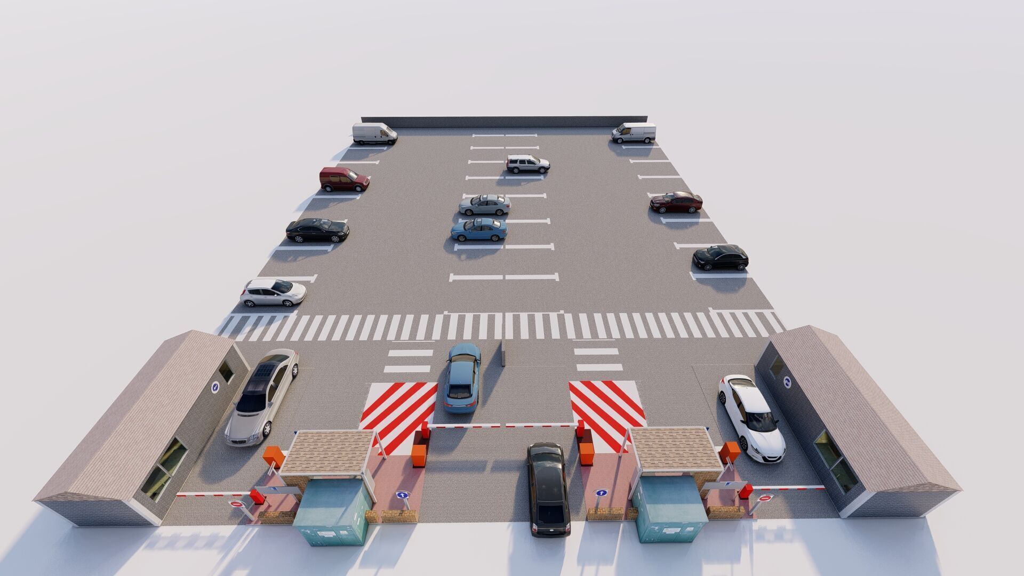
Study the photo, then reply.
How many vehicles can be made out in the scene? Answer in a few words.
14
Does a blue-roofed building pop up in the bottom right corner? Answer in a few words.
No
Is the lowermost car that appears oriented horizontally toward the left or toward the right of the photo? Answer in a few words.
left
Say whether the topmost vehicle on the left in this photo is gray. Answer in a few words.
Yes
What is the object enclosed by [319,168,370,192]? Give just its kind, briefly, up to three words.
vehicle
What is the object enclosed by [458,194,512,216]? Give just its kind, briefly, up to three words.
car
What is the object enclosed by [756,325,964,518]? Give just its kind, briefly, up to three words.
building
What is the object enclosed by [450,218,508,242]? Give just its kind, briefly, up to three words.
car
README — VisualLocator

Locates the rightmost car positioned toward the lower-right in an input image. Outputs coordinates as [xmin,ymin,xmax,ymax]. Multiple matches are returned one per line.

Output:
[718,375,789,465]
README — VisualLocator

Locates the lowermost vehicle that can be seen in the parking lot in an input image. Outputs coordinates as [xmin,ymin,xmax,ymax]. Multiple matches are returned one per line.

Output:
[525,443,573,539]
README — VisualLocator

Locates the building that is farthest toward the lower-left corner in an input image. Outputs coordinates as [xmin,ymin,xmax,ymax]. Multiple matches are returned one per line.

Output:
[30,329,252,528]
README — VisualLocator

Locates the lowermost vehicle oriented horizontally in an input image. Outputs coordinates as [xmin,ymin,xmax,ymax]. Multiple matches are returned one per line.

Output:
[239,279,307,308]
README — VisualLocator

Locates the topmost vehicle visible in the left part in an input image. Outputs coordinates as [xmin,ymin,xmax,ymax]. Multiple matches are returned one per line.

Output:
[352,122,399,145]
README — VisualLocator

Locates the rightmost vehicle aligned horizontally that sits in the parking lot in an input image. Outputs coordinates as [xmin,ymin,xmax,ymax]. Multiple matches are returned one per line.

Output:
[692,245,749,270]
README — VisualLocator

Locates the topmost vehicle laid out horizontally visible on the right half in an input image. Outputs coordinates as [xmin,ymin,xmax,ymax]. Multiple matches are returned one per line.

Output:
[611,123,657,144]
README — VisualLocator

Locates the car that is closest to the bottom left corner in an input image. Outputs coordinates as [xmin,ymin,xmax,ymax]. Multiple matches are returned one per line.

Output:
[223,349,301,448]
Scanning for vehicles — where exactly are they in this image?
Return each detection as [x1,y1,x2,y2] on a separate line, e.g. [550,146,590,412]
[450,218,508,242]
[507,153,551,174]
[223,349,301,448]
[650,192,703,213]
[458,194,512,216]
[286,219,350,243]
[611,123,657,144]
[692,245,749,270]
[525,443,573,539]
[239,279,307,308]
[319,168,370,192]
[352,122,399,145]
[443,342,482,412]
[718,375,789,465]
